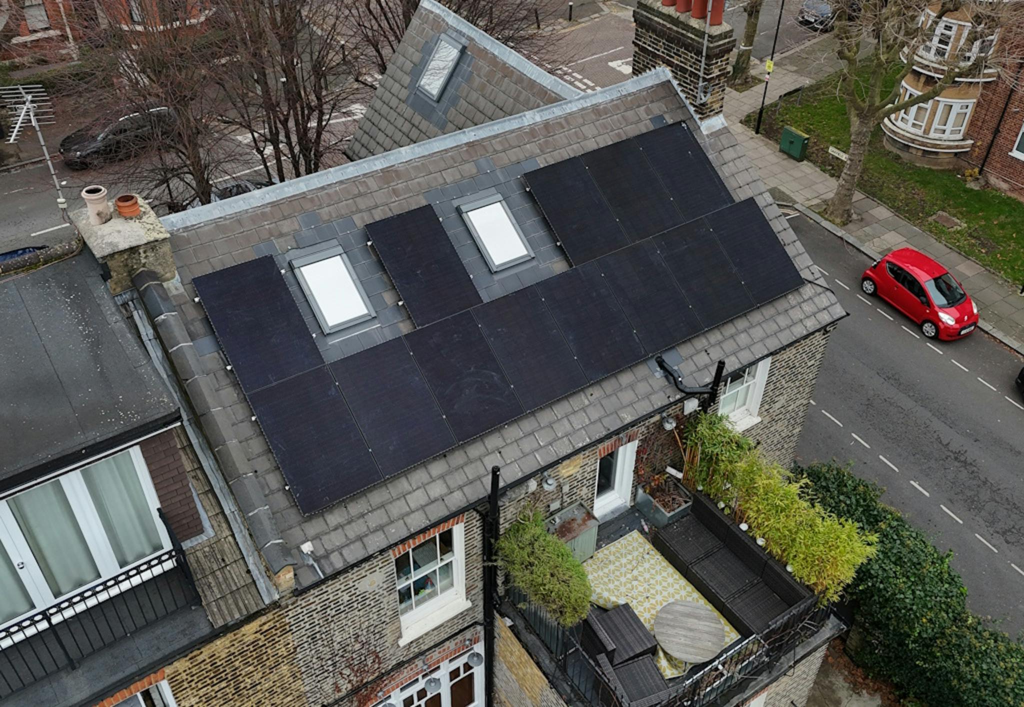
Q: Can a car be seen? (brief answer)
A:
Yes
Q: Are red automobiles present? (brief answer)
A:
Yes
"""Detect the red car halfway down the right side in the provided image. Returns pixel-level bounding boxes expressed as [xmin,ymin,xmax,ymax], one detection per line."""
[861,243,986,340]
